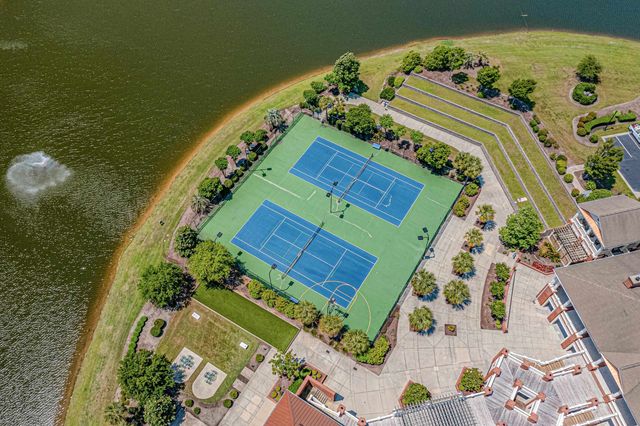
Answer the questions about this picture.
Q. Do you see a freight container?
No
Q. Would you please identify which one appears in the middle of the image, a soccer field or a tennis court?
tennis court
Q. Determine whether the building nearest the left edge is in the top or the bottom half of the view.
bottom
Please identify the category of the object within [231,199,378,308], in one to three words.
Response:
tennis court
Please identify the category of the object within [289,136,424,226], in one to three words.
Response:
tennis court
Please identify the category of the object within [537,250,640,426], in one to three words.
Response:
building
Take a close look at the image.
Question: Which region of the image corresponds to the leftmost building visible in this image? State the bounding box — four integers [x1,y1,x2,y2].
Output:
[264,390,343,426]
